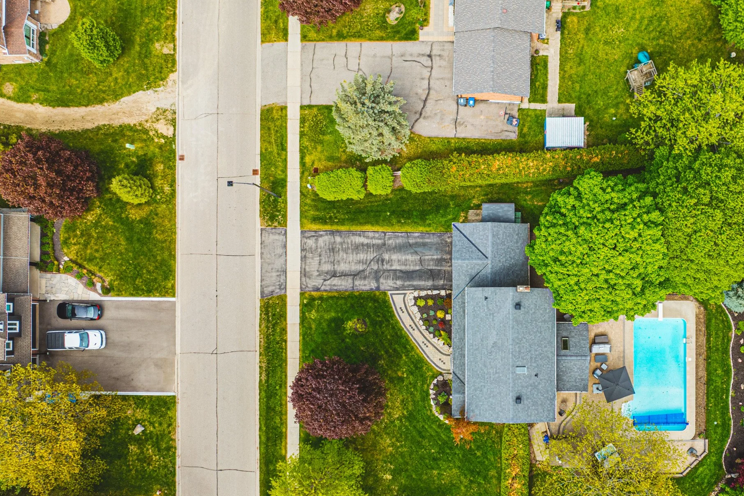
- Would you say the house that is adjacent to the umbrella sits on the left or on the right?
right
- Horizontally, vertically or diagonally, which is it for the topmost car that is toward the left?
horizontally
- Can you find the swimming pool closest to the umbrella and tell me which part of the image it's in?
bottom right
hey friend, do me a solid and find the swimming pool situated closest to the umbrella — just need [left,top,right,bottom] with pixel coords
[621,318,687,433]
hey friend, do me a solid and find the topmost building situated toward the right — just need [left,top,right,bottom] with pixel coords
[450,0,547,105]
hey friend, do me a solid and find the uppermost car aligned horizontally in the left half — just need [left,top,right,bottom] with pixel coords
[54,300,99,322]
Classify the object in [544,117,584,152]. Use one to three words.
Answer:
shed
